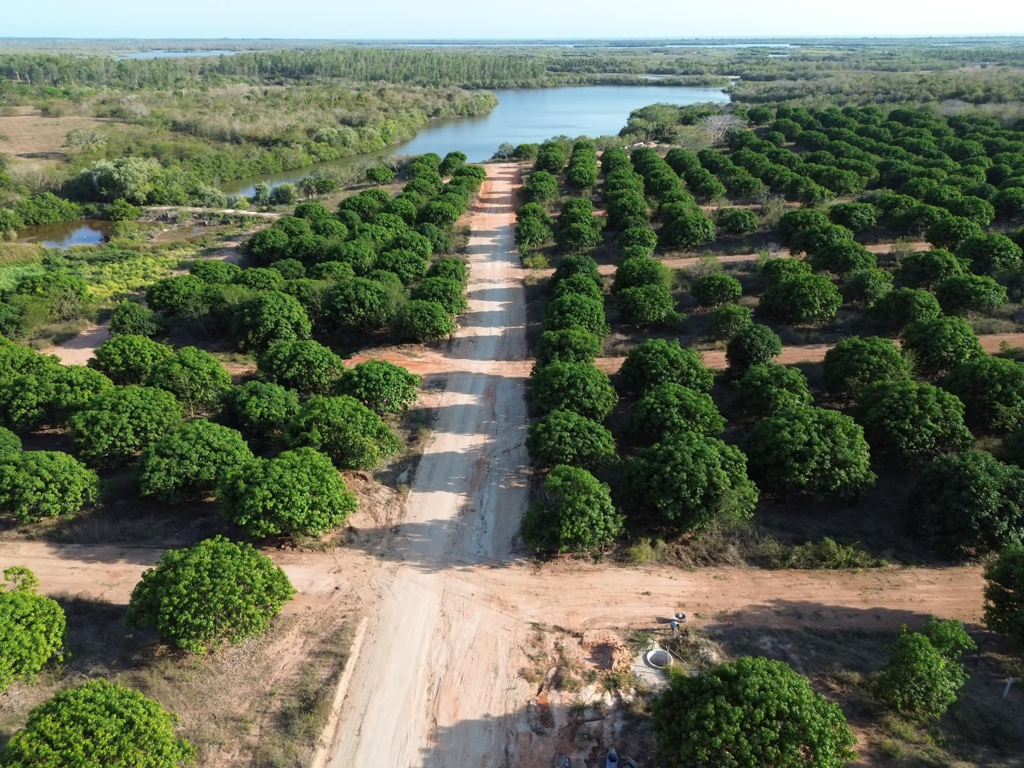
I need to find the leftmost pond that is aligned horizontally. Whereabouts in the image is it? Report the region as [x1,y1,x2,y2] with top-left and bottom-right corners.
[14,219,141,250]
